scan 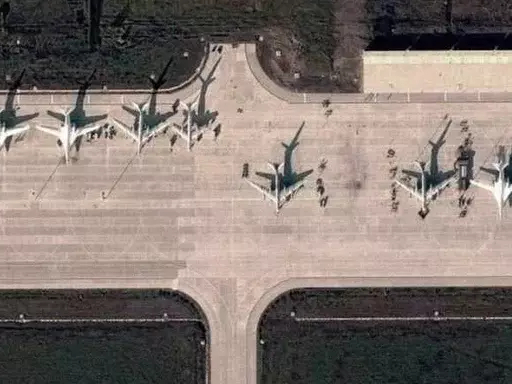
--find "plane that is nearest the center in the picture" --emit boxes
[249,154,307,206]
